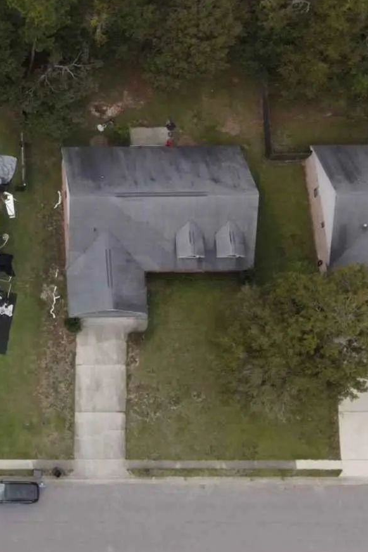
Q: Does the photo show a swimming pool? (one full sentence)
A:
No, there isn't any swimming pool down there.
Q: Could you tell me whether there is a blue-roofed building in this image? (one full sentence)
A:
No, the picture doesn't show any blue-roofed building.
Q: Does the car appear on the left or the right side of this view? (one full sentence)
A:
The car is on the left side of the image.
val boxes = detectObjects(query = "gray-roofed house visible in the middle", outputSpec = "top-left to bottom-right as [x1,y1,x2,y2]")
[61,145,259,319]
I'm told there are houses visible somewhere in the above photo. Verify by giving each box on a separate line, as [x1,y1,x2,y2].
[300,145,368,316]
[61,145,259,319]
